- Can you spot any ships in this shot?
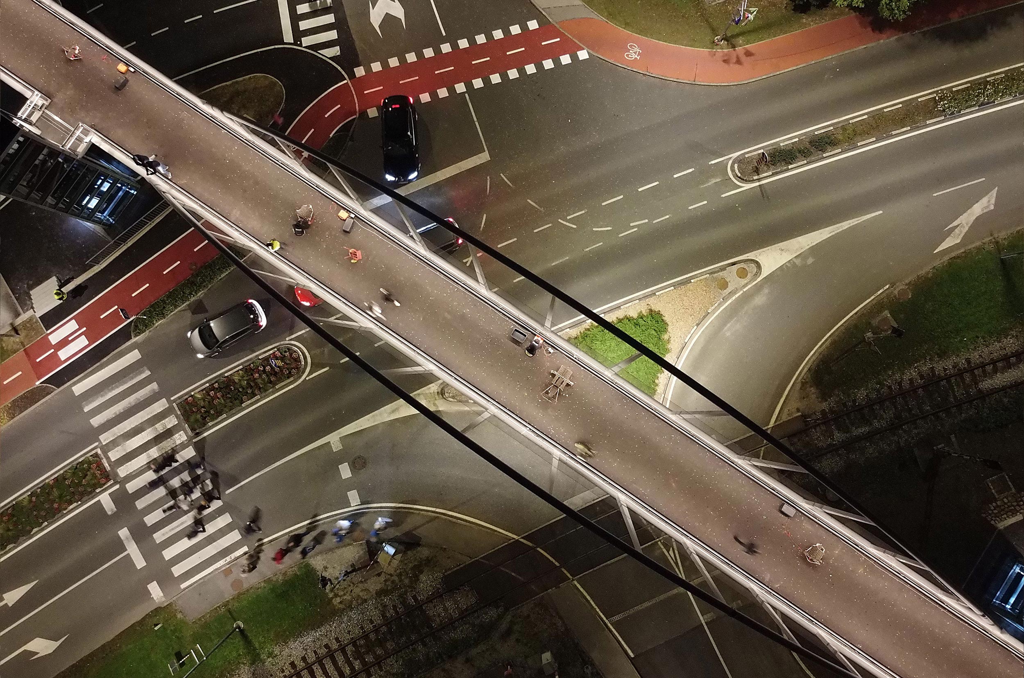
No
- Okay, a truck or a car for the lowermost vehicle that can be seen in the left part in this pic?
car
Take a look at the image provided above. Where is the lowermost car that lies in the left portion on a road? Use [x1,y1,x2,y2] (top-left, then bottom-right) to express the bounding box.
[185,295,269,359]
